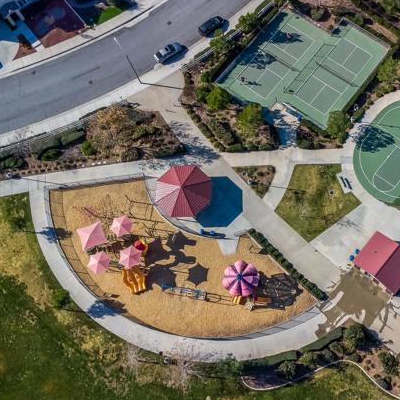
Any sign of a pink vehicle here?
No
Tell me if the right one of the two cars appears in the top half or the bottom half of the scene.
top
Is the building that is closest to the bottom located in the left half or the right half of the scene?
right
